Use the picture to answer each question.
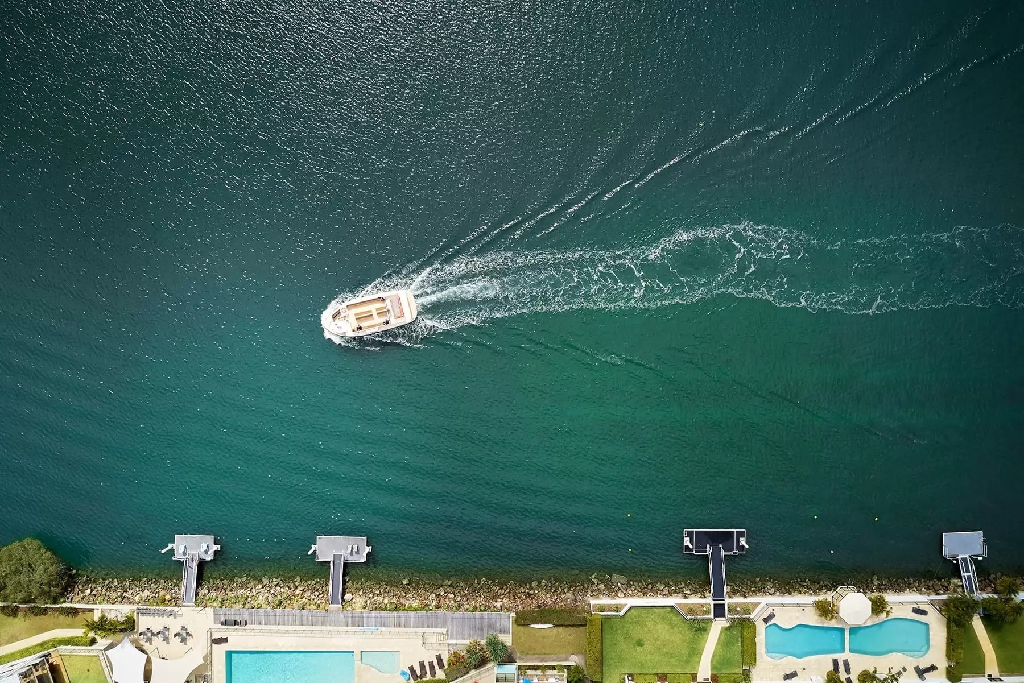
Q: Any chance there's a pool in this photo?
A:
Yes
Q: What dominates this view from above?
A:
water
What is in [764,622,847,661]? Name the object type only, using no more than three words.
swimming pool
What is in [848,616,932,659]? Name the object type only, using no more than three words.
swimming pool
